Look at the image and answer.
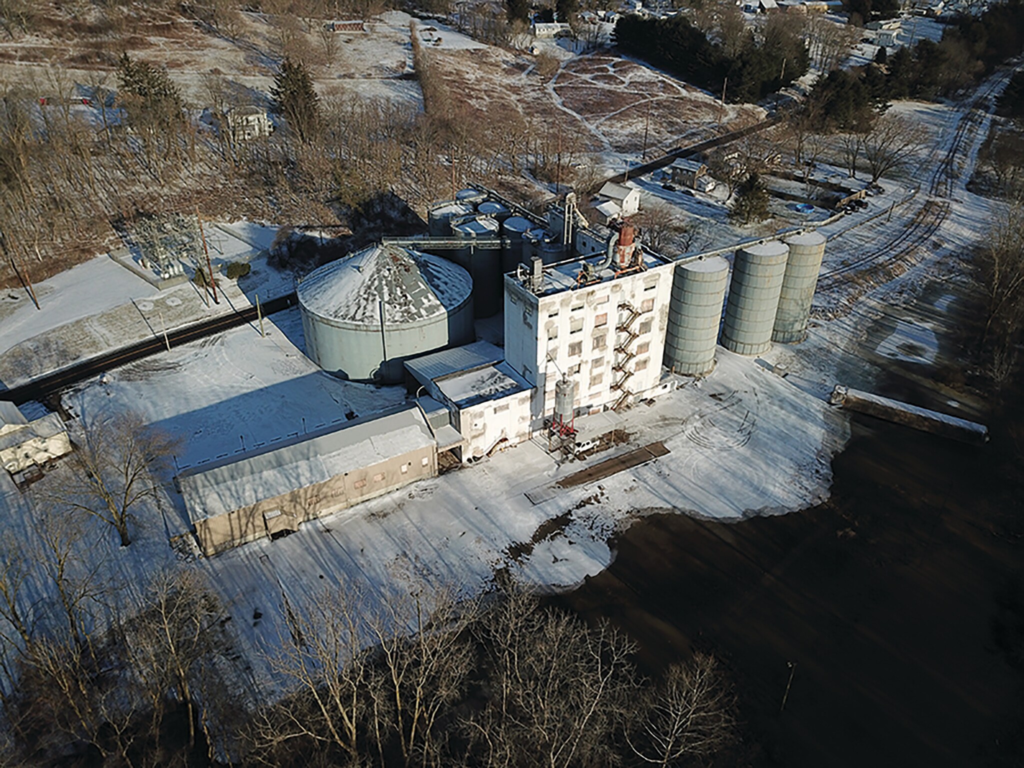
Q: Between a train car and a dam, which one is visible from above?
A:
train car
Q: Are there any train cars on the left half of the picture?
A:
No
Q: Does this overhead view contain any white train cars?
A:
No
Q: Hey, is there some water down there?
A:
Yes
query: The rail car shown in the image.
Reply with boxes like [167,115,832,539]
[835,384,989,448]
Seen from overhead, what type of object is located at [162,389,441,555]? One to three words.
shed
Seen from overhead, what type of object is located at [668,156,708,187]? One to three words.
house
